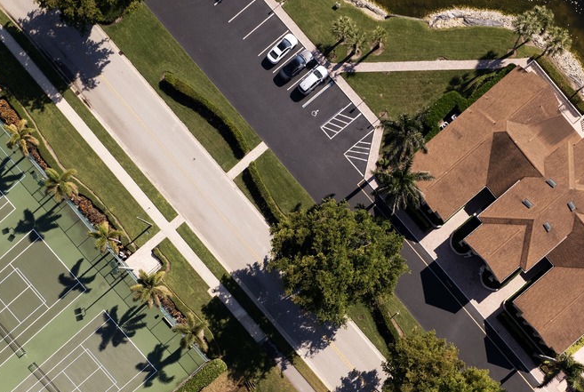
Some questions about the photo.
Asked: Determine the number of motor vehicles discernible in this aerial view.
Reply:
3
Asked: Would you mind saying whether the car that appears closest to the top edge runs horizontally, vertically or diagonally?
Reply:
diagonally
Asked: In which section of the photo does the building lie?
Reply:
right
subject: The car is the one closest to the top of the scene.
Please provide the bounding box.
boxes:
[265,33,299,64]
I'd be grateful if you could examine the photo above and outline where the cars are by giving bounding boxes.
[279,50,313,81]
[298,64,330,96]
[265,33,299,64]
